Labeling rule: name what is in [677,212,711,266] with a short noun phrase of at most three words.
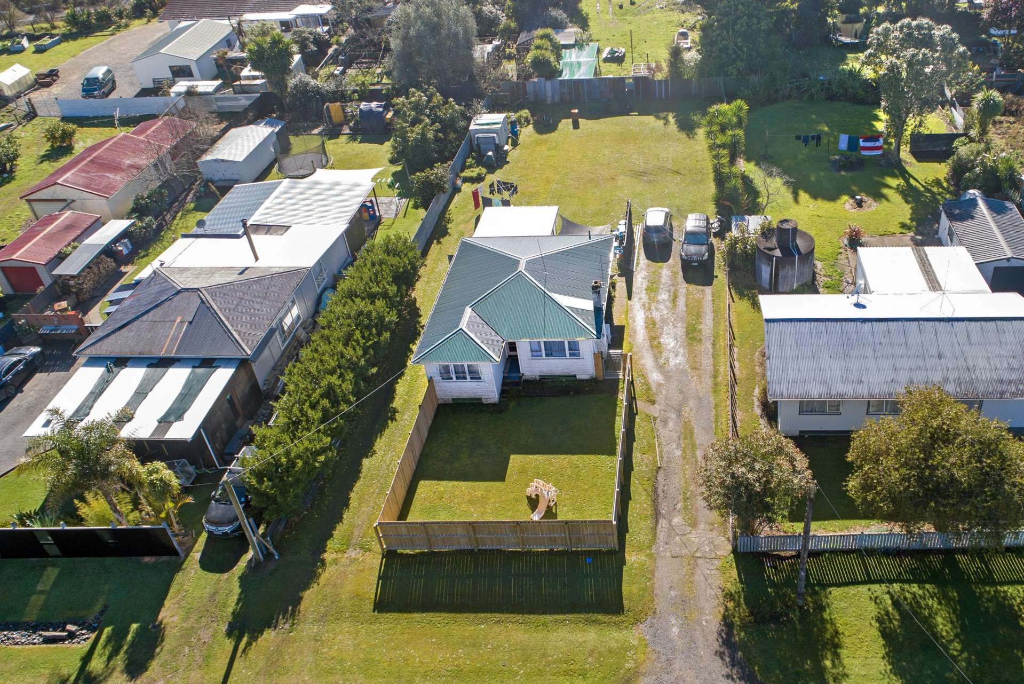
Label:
car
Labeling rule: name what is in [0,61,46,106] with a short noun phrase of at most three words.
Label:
shed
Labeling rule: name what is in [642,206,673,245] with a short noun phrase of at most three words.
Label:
car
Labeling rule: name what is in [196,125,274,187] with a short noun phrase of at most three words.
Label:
shed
